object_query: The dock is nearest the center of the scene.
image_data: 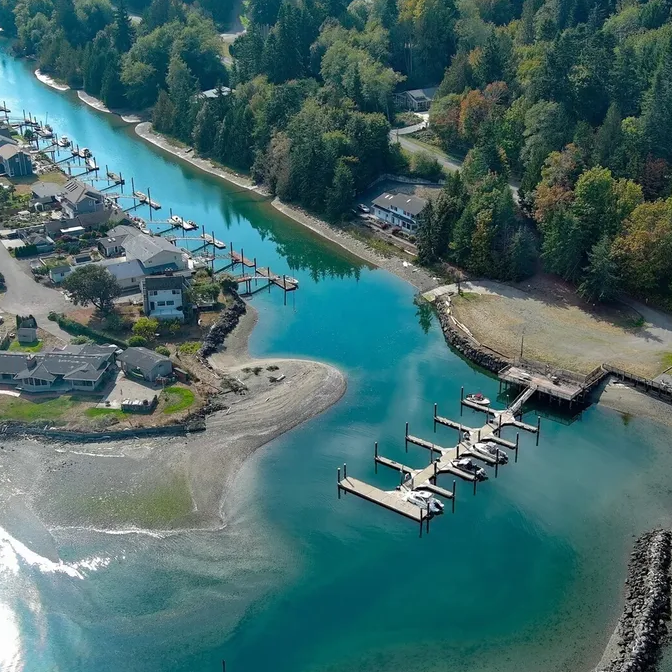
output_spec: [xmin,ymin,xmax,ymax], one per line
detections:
[235,267,299,294]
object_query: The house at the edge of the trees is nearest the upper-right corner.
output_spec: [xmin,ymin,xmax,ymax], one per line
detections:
[400,91,438,113]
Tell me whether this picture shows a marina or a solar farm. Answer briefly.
marina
